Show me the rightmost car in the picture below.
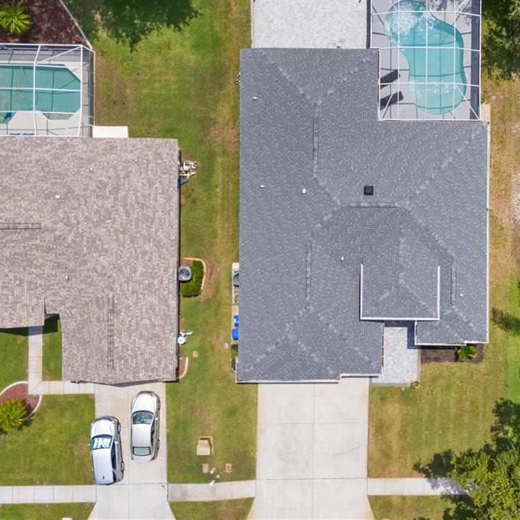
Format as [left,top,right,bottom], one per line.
[127,391,161,461]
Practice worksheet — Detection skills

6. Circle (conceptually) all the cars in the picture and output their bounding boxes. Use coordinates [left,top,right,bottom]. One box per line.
[89,416,126,485]
[127,391,161,461]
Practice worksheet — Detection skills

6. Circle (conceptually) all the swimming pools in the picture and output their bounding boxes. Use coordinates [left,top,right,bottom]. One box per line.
[0,62,81,127]
[381,0,470,117]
